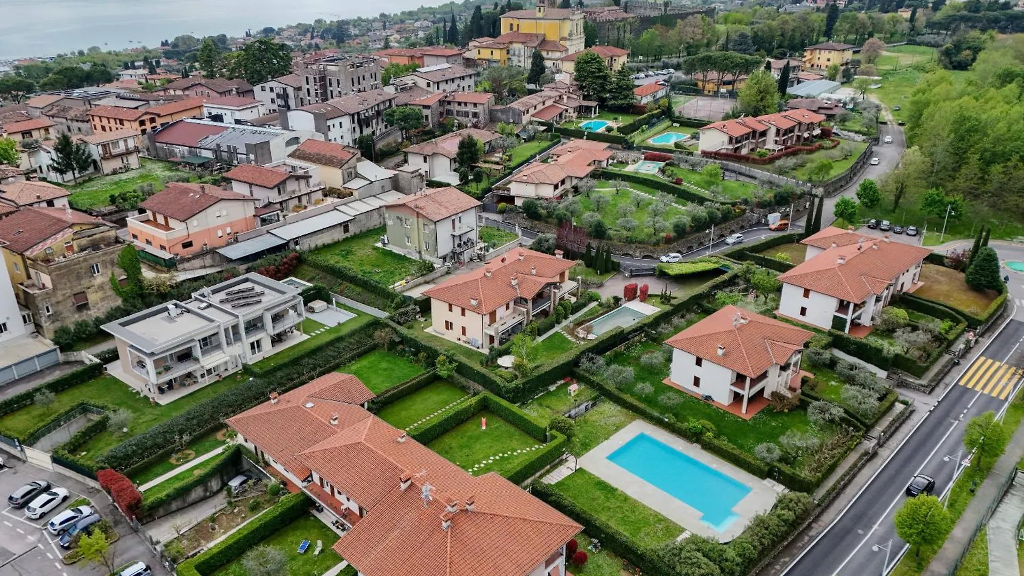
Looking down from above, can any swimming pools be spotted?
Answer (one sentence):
Yes, a swimming pool appears in the view.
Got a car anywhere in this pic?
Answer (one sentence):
Yes, this view includes a car.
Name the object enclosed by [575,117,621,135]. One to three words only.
swimming pool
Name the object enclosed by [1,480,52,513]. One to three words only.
car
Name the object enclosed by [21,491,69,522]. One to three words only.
car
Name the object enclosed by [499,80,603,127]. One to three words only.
house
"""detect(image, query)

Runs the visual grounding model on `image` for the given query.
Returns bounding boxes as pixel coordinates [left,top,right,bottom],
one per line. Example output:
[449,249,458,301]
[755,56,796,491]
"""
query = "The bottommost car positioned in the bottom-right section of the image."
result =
[906,474,937,504]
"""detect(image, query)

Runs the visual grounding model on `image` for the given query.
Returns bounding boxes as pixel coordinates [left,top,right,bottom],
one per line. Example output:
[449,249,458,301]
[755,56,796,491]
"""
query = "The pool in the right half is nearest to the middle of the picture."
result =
[576,300,661,340]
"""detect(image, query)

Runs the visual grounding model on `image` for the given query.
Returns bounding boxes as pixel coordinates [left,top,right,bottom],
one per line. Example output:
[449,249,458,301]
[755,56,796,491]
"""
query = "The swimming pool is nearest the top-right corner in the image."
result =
[646,131,690,147]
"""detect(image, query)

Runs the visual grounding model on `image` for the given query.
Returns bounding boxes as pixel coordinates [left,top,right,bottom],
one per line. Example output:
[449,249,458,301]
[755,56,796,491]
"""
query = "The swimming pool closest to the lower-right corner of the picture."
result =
[580,424,779,540]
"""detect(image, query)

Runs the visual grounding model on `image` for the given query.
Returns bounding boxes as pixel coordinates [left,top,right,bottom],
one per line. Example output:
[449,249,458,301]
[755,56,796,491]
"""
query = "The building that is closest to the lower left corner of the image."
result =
[0,332,63,388]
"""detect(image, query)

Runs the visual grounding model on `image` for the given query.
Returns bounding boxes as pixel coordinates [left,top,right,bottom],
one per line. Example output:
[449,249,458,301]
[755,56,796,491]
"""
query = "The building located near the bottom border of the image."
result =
[225,370,585,576]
